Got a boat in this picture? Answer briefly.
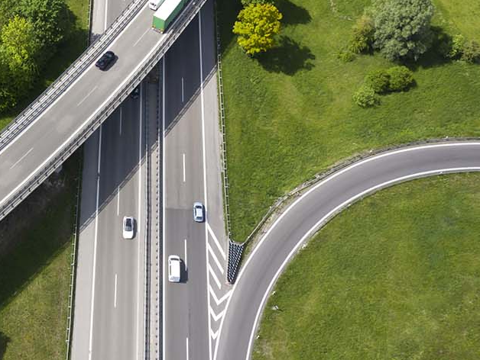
No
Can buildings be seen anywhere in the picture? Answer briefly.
No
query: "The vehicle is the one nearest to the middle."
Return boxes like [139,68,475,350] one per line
[193,201,205,224]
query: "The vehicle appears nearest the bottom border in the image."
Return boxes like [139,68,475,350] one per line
[167,256,182,283]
